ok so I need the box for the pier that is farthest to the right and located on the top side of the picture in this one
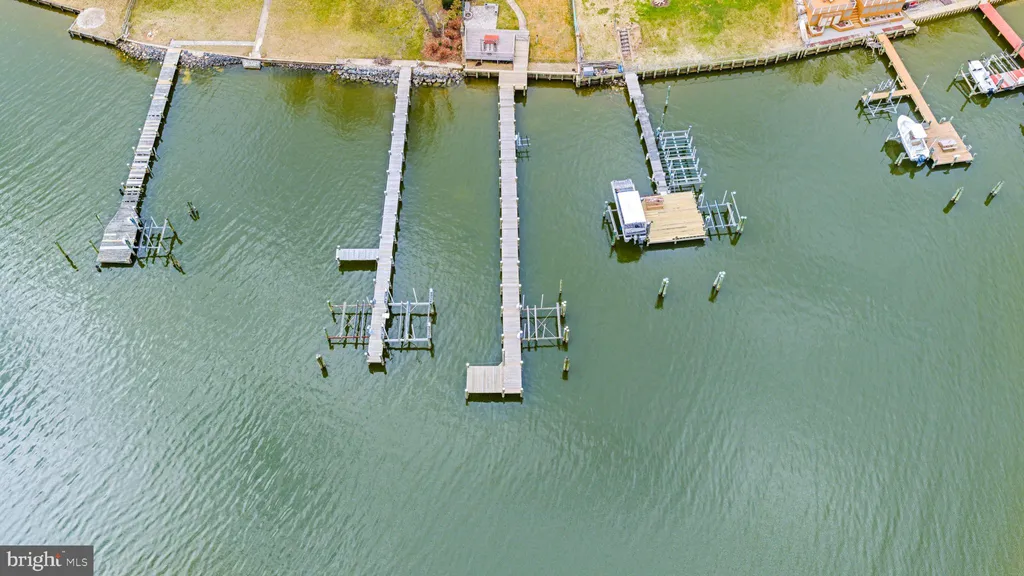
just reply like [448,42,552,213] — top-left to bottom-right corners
[978,2,1024,94]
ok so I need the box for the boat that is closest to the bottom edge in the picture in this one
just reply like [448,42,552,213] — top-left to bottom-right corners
[610,180,647,250]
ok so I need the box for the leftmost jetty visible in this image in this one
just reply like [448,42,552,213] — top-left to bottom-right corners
[97,50,182,268]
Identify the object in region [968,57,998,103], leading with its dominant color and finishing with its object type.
white boat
